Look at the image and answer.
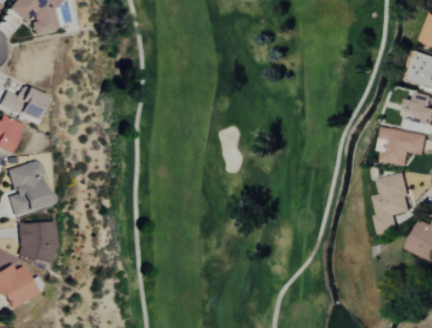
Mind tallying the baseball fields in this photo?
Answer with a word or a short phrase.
0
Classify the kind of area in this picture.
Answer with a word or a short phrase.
golf course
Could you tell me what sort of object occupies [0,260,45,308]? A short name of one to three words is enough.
house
